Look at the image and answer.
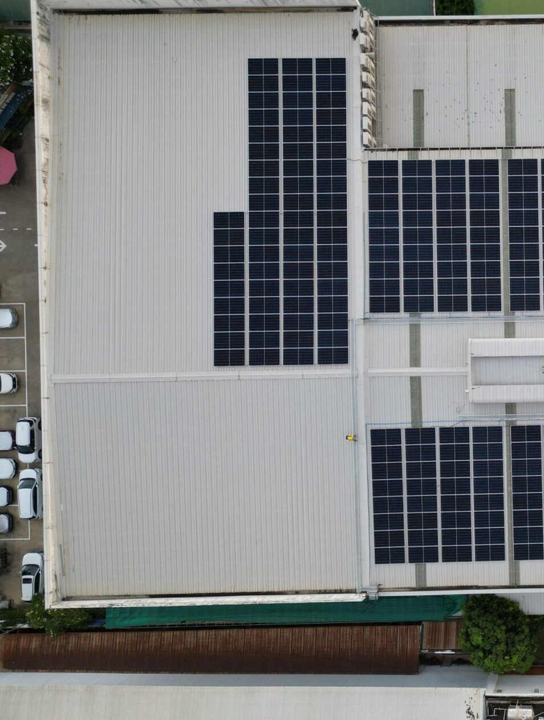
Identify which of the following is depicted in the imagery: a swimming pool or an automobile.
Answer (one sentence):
Of the two, only an automobile appears.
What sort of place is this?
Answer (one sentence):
The picture captures an industrial area.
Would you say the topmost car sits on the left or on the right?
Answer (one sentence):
You can find the topmost car on the left side of the picture.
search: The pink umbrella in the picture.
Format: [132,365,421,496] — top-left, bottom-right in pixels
[0,147,21,186]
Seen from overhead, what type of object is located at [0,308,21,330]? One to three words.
car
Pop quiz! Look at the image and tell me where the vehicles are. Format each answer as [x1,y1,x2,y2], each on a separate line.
[14,413,42,461]
[0,458,19,479]
[17,550,46,604]
[0,370,22,396]
[0,429,17,452]
[16,464,43,518]
[0,485,14,507]
[0,308,21,330]
[0,511,15,534]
